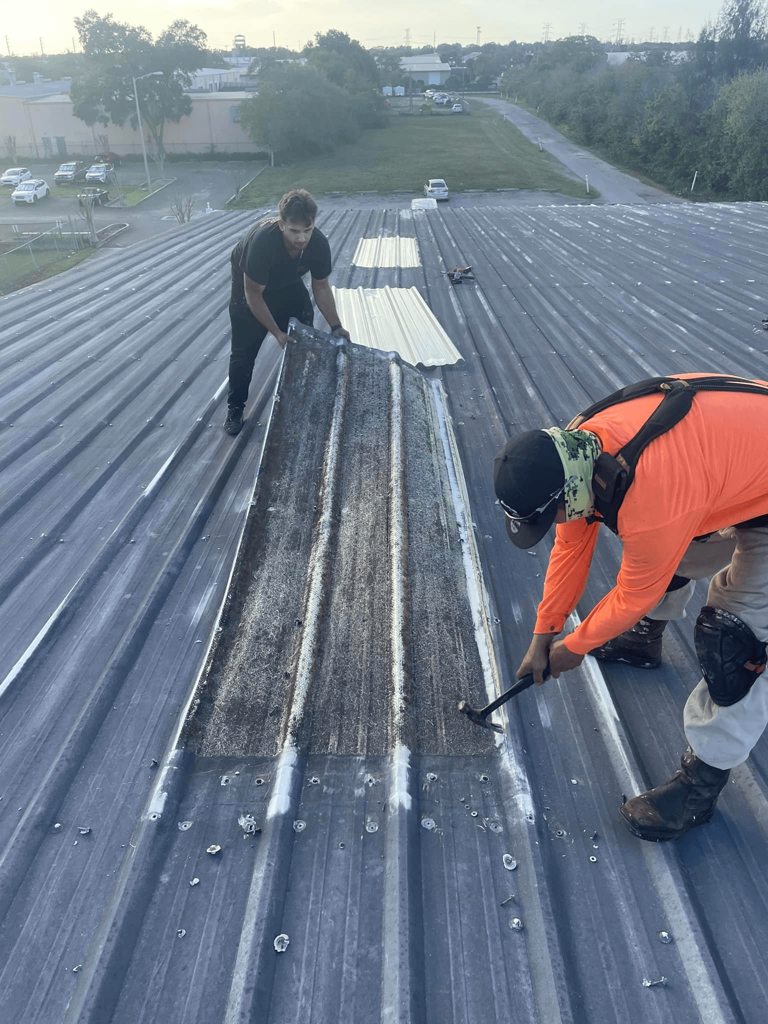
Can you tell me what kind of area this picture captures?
industrial area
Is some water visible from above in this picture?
No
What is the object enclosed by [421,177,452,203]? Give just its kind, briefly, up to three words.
car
